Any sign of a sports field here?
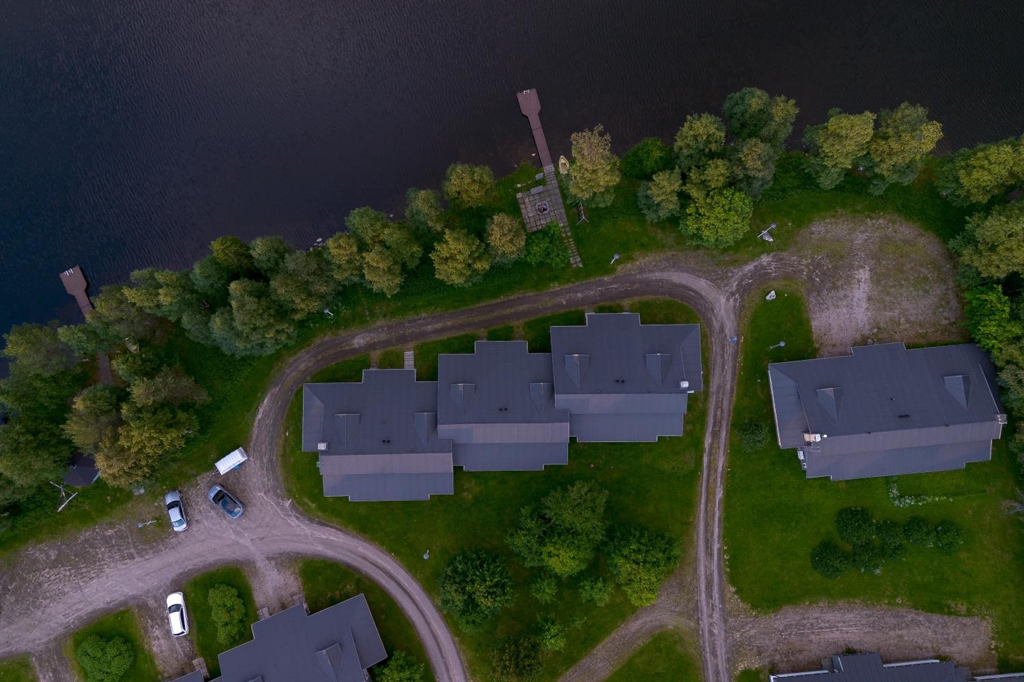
No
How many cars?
3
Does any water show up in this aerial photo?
Yes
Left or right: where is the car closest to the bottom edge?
left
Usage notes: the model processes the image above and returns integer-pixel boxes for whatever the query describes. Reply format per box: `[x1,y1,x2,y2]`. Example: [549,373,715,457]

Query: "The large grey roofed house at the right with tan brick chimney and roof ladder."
[769,342,1008,480]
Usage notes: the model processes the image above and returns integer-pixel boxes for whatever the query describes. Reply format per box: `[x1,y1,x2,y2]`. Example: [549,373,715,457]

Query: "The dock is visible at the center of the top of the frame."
[517,85,552,168]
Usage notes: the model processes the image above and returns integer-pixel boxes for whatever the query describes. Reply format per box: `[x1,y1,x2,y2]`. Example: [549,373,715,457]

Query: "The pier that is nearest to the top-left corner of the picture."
[59,265,102,328]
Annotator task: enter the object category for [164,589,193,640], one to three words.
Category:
car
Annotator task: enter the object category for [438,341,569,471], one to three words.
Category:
house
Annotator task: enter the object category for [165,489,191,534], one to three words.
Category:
car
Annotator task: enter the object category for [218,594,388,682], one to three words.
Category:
house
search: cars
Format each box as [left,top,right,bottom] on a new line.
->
[165,489,191,534]
[164,589,193,640]
[209,483,248,521]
